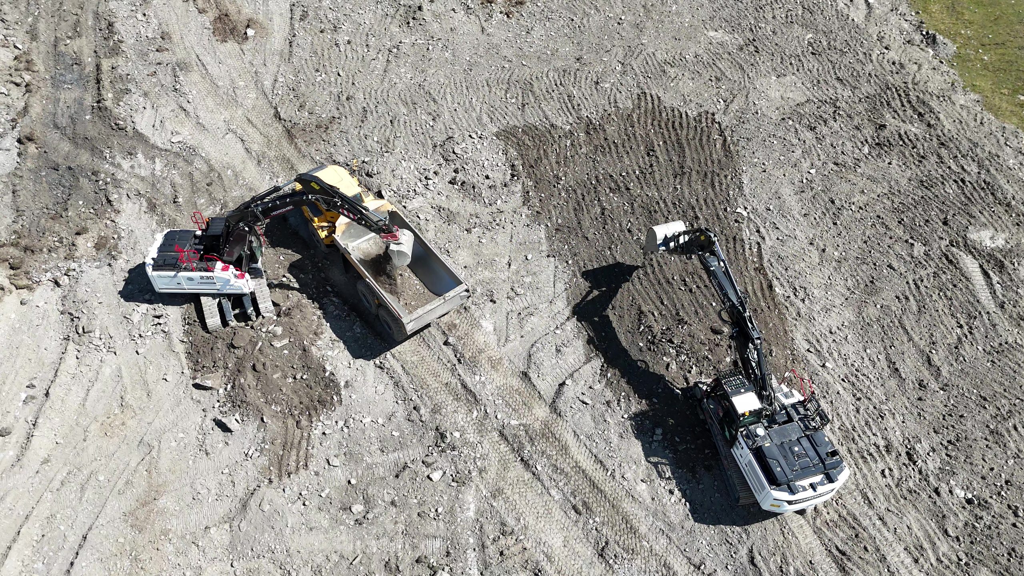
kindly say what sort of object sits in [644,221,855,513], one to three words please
work vehicle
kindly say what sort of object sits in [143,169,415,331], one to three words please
work vehicle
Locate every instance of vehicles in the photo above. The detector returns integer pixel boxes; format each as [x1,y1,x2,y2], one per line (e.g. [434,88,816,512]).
[143,169,415,331]
[644,221,855,513]
[290,161,474,351]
